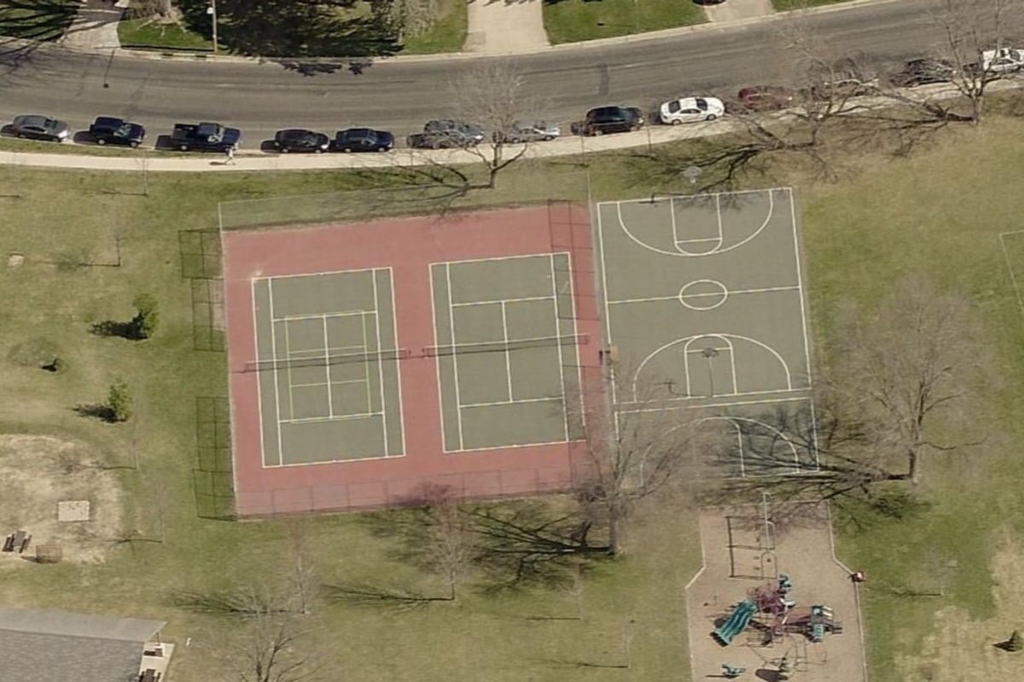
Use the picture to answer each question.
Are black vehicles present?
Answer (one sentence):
Yes, you can see a black vehicle in this photo.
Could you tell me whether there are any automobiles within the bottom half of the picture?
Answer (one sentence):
No, within the bottom half of the picture there is no automobile.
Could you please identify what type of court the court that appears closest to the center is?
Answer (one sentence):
The court that appears closest to the center can be classified as a tennis court.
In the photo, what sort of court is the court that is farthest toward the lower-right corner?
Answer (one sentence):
The court that is farthest toward the lower-right corner in the image is a basketball court.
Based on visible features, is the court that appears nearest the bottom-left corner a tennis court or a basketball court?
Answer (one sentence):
I'd say the court that appears nearest the bottom-left corner is a tennis court.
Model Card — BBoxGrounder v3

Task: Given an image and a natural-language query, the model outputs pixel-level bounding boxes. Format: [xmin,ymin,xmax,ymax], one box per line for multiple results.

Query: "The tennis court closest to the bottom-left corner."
[223,217,424,516]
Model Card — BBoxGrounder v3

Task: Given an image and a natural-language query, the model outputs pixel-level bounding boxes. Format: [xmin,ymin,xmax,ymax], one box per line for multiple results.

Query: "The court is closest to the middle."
[404,202,610,501]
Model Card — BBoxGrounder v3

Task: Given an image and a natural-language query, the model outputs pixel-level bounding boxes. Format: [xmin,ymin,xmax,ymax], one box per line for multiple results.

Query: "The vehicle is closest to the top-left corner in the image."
[12,111,70,139]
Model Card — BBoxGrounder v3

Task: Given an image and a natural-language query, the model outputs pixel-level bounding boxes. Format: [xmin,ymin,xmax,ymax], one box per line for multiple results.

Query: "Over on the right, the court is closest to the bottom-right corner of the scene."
[611,393,821,492]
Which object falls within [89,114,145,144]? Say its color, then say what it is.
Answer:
black car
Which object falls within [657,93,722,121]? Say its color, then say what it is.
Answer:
white car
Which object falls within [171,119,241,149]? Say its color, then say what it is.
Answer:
black truck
